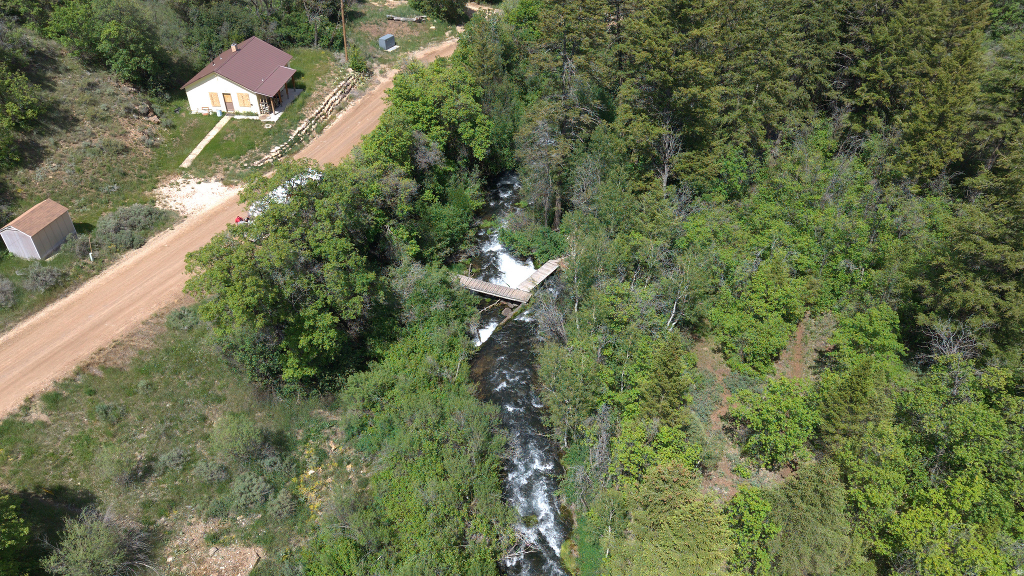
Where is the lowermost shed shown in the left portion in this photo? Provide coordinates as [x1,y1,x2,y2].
[0,198,75,262]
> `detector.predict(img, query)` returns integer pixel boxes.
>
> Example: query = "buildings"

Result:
[180,37,304,123]
[0,198,75,262]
